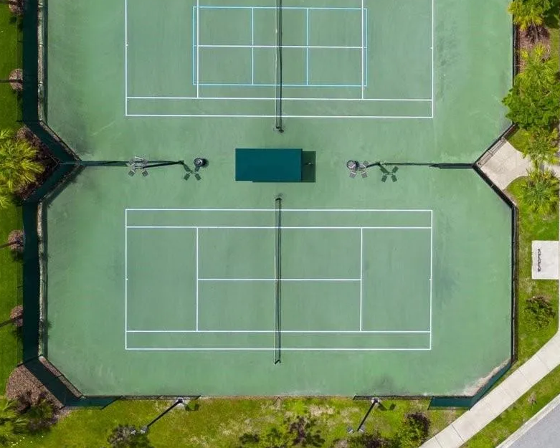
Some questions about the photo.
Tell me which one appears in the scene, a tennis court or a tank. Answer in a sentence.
It is a tennis court that can be seen here.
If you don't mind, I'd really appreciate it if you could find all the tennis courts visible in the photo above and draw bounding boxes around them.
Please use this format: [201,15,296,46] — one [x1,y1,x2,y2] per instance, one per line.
[43,162,513,395]
[43,0,514,162]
